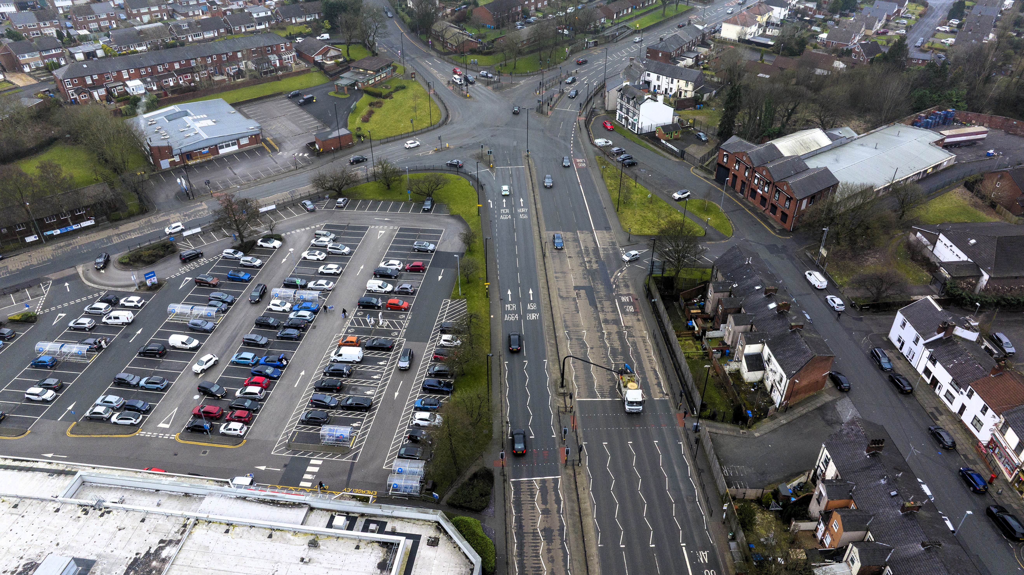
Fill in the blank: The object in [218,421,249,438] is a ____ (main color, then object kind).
white car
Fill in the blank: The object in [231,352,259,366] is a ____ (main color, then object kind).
blue car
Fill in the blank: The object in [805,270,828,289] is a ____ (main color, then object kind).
white vehicle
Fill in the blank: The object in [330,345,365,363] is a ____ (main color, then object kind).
white vehicle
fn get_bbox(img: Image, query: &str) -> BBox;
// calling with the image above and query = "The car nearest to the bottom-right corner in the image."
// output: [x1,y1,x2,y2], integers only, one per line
[988,508,1024,541]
